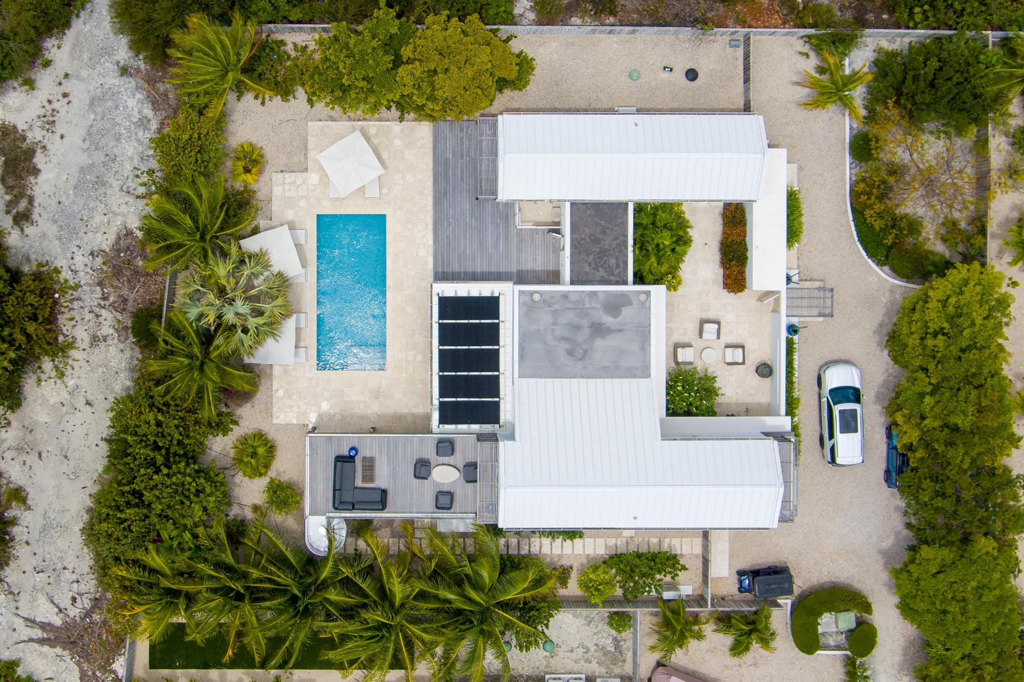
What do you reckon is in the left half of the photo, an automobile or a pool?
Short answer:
pool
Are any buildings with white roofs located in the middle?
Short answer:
Yes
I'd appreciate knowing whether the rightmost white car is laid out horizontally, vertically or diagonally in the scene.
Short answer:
vertically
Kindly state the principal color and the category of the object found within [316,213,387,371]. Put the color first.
blue swimming pool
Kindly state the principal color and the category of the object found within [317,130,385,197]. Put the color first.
white umbrella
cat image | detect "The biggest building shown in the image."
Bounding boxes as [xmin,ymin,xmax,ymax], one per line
[304,106,799,559]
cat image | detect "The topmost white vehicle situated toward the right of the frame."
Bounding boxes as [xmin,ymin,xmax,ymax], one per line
[817,363,868,466]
